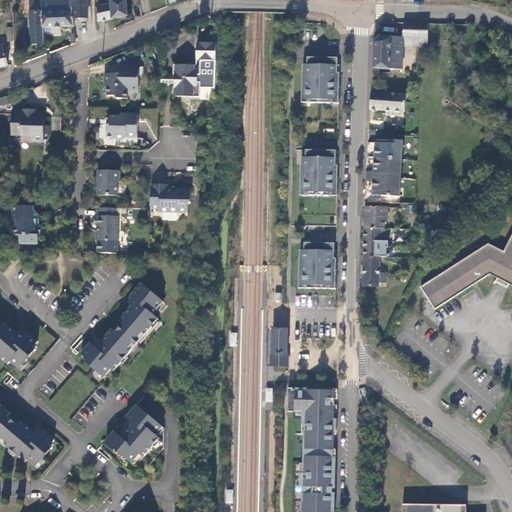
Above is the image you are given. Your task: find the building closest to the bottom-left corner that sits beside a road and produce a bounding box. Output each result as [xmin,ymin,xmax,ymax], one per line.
[0,400,58,475]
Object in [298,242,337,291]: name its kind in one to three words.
house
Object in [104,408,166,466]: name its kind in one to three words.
building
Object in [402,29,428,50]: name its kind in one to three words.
shed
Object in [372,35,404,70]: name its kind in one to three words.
house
